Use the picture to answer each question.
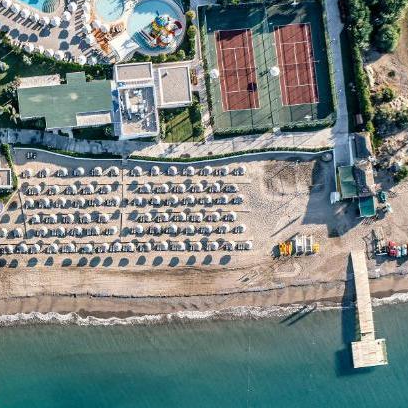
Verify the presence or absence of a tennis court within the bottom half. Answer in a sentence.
No, there is no tennis court within the bottom half.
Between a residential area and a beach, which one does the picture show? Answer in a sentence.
The picture captures a beach.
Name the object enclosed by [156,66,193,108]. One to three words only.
building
